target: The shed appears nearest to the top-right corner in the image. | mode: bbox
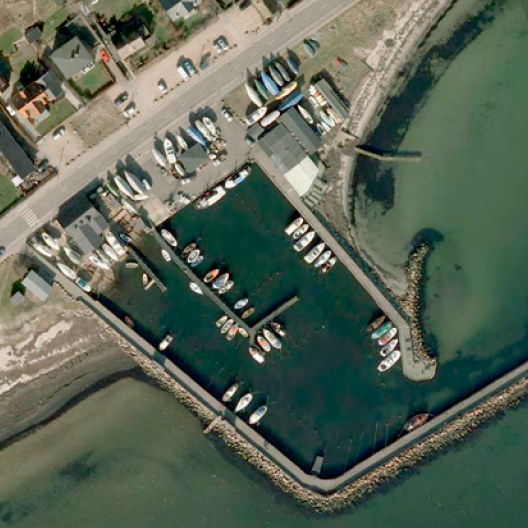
[315,77,349,120]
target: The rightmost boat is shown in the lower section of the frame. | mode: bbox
[401,414,431,431]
